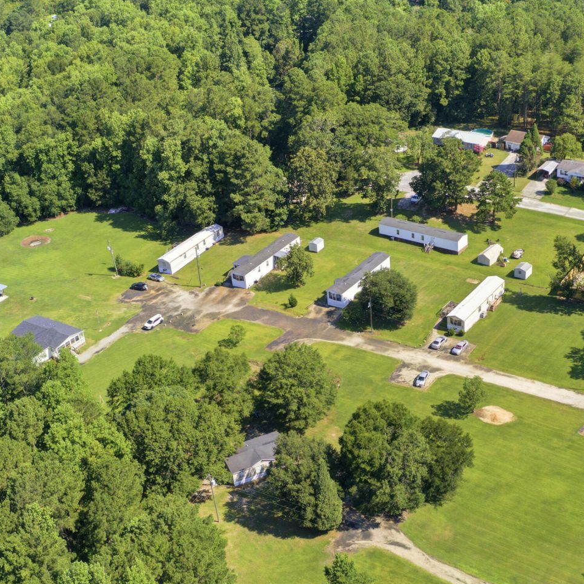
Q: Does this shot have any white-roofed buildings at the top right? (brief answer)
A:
Yes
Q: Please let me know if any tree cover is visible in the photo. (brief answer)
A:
Yes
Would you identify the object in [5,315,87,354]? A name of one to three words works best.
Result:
house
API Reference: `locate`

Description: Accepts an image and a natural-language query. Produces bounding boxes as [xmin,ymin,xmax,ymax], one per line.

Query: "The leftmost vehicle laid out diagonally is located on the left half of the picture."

[143,313,163,327]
